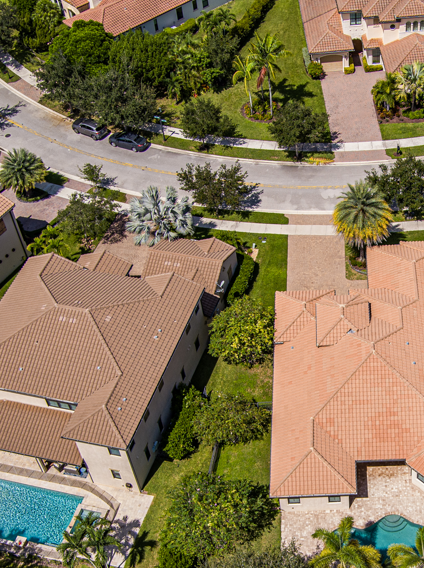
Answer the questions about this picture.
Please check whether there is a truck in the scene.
No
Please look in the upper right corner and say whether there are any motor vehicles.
No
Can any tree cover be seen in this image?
Yes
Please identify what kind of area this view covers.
residential area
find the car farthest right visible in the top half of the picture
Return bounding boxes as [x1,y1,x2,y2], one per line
[106,128,148,150]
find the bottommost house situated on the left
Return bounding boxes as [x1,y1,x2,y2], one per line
[0,237,238,492]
